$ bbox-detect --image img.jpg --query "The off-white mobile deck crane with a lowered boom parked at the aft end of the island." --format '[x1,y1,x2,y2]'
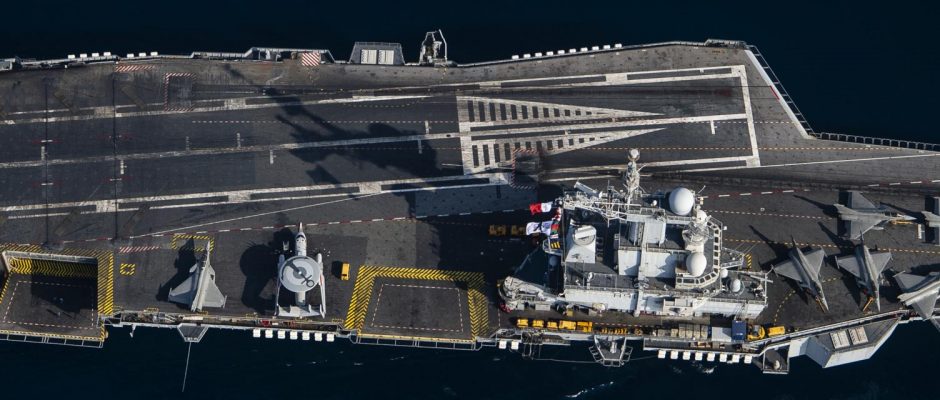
[493,276,563,318]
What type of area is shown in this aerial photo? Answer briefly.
parking lot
